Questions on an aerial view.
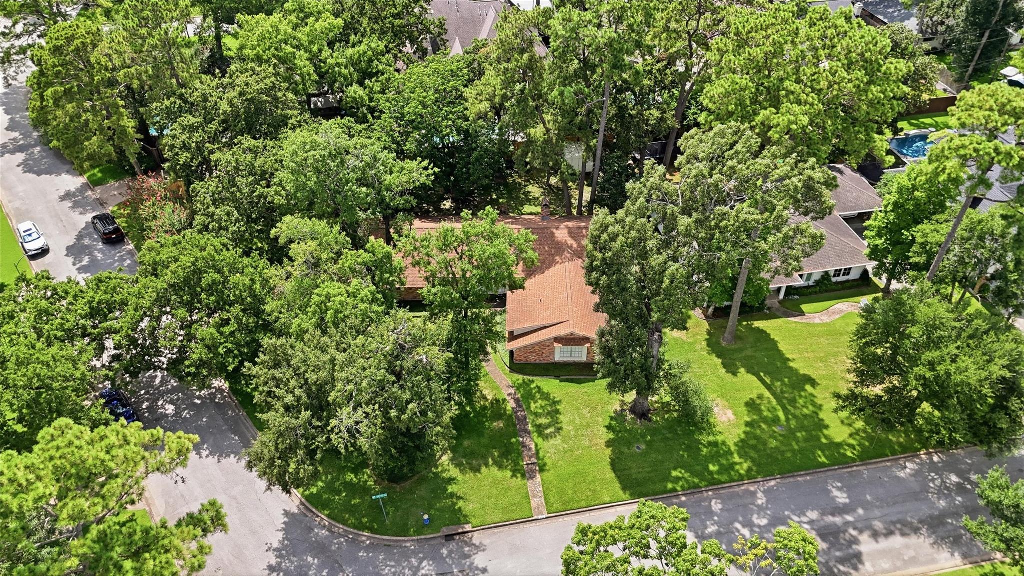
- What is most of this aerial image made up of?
trees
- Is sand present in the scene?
No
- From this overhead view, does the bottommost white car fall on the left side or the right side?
left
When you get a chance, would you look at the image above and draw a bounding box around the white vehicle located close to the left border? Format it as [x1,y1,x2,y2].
[16,220,49,257]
